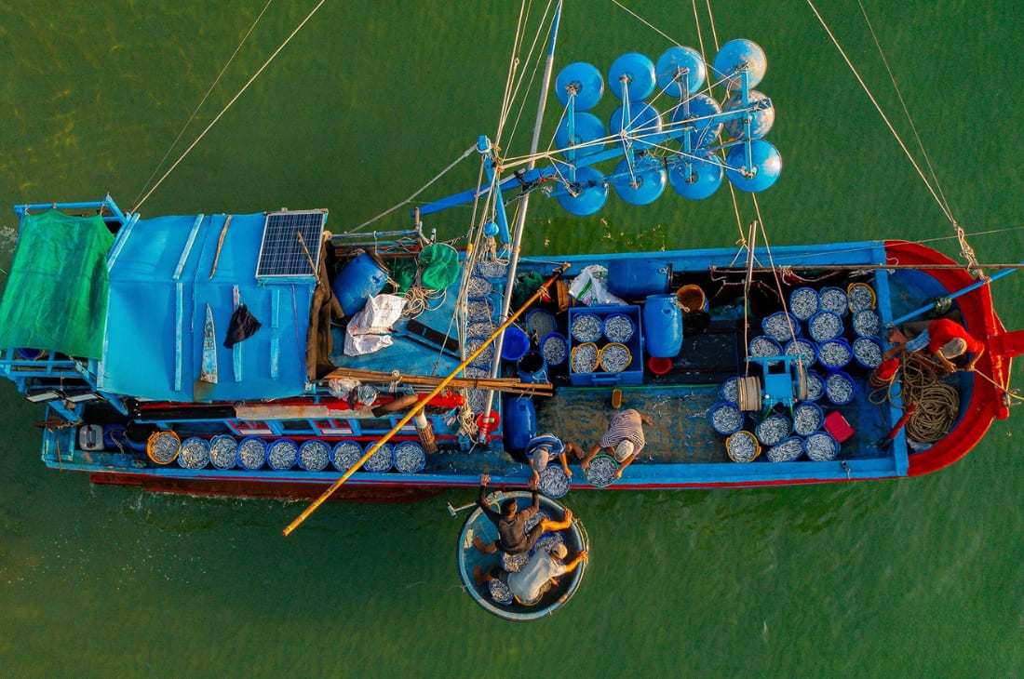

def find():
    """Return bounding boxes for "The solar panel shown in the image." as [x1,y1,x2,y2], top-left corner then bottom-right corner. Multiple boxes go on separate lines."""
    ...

[256,208,327,287]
